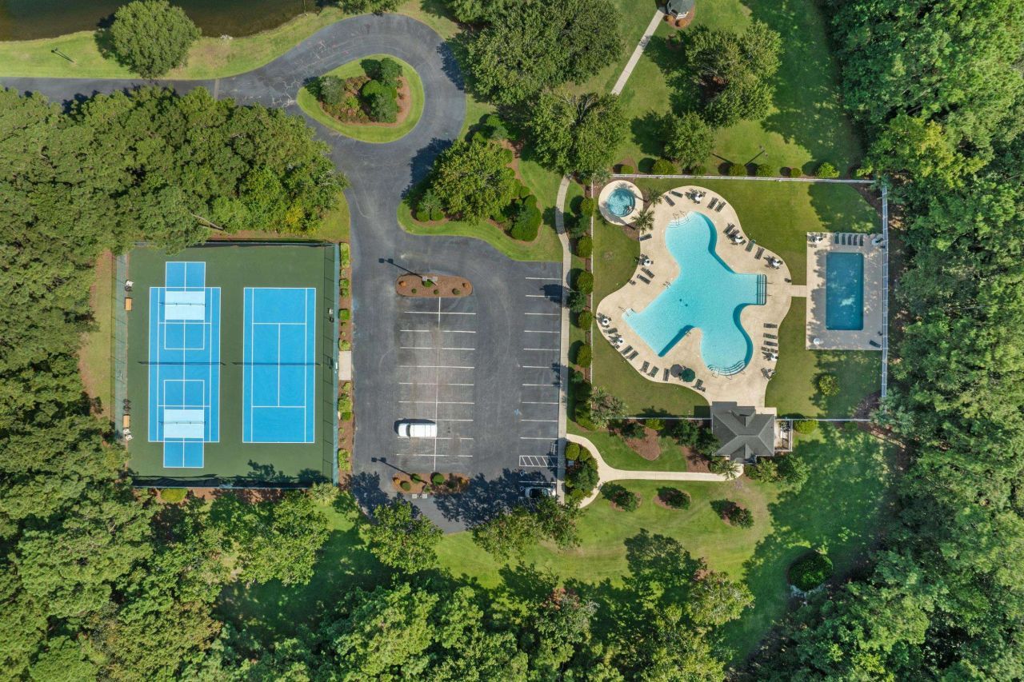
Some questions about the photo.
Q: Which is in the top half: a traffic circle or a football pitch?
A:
traffic circle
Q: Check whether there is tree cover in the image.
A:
Yes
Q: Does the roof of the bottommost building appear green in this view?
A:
No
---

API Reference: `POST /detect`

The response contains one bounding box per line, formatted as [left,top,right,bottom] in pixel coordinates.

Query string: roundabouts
[297,54,424,143]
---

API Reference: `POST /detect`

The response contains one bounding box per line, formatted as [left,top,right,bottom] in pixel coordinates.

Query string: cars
[397,422,436,438]
[525,486,556,500]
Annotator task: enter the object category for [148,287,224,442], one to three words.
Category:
tennis court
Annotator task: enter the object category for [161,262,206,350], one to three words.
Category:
sports court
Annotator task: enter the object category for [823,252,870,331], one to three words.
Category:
swimming pool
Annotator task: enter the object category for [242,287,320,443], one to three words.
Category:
tennis court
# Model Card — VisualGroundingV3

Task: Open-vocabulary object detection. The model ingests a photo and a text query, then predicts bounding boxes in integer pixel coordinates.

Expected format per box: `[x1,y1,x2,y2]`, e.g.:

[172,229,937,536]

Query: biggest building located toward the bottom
[710,410,775,462]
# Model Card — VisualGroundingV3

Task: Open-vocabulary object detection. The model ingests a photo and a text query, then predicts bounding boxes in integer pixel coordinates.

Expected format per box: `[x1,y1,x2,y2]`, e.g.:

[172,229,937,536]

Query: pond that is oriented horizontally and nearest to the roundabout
[0,0,319,41]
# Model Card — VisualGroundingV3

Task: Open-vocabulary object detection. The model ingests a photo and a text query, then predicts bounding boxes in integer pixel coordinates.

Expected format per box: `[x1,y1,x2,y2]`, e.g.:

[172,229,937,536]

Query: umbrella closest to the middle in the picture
[681,368,696,382]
